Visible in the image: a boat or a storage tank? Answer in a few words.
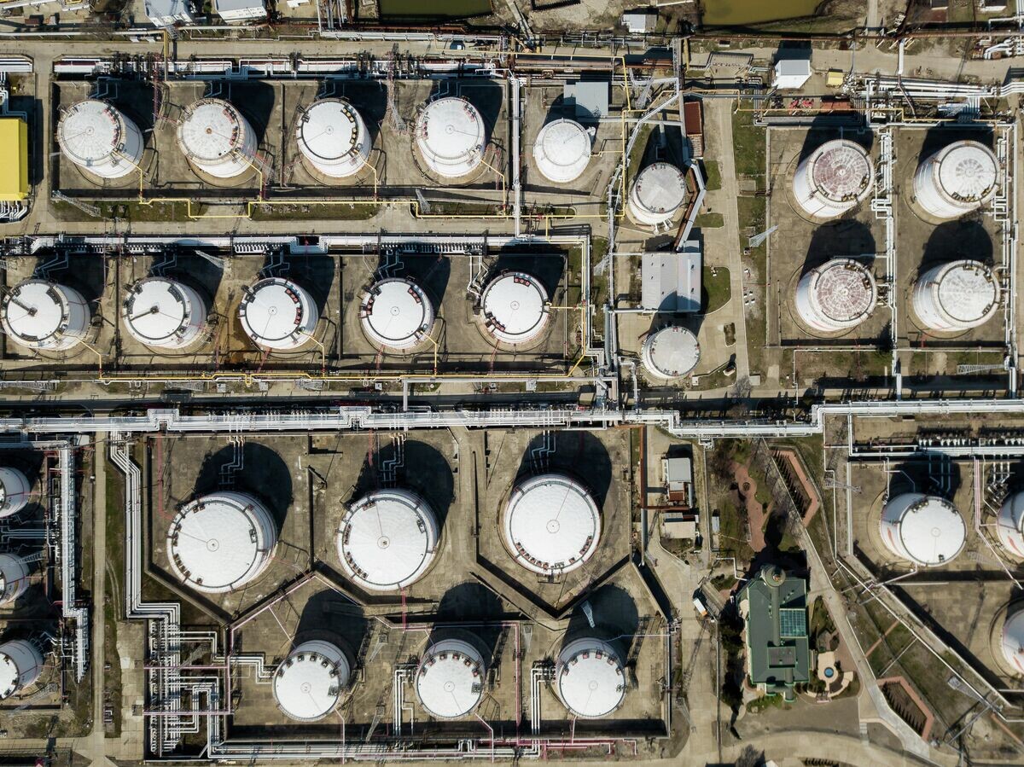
storage tank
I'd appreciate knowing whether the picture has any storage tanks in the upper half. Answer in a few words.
Yes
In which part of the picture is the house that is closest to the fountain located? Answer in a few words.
bottom right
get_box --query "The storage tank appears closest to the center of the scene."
[468,272,552,347]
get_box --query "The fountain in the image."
[818,653,838,688]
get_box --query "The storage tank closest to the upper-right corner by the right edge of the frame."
[907,139,1003,224]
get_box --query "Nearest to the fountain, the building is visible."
[732,558,816,703]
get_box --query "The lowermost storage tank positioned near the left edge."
[0,632,47,706]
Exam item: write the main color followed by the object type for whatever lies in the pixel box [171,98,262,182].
white storage tank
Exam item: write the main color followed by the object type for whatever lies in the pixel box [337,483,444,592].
white storage tank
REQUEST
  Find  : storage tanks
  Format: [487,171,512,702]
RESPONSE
[233,277,323,354]
[166,486,282,595]
[0,548,34,613]
[905,252,1002,338]
[53,98,149,183]
[624,160,688,228]
[787,140,876,222]
[530,117,595,183]
[412,97,490,181]
[497,466,602,589]
[273,629,365,720]
[0,632,47,706]
[637,325,702,383]
[548,630,640,720]
[468,272,552,347]
[0,460,34,524]
[292,97,377,181]
[413,631,498,721]
[789,257,881,336]
[907,139,1003,224]
[993,486,1024,561]
[337,483,444,592]
[116,277,212,353]
[874,486,970,567]
[356,278,440,355]
[171,98,262,182]
[0,279,96,355]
